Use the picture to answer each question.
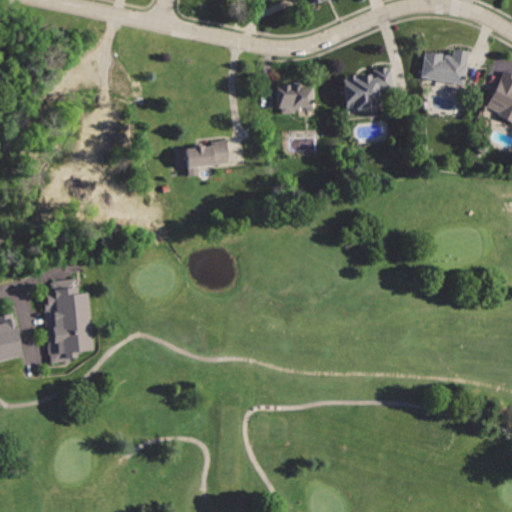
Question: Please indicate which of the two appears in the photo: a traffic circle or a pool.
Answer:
pool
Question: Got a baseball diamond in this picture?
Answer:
No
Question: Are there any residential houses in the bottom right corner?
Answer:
No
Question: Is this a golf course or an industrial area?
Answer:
golf course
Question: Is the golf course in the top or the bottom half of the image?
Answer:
bottom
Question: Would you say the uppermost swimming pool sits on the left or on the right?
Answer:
right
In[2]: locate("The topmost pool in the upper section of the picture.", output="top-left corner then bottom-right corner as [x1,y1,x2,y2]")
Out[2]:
[424,82,464,116]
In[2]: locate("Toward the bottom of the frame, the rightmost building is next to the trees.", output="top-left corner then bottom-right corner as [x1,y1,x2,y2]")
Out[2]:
[44,281,92,364]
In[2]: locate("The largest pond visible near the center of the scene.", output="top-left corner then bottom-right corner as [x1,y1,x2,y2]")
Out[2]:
[188,248,236,289]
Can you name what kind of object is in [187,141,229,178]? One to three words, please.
house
